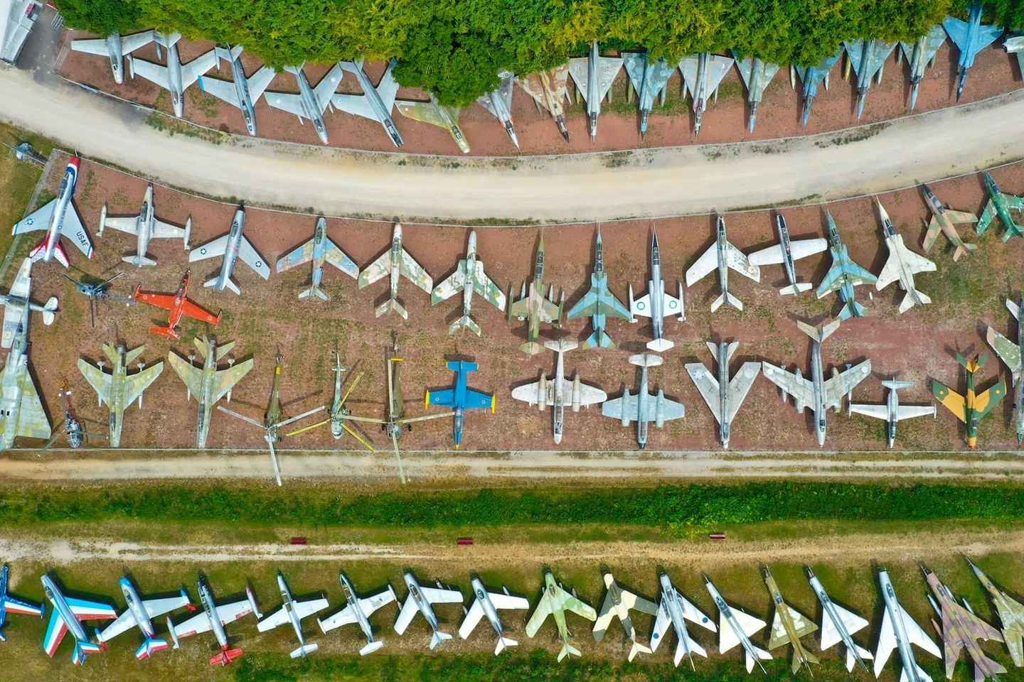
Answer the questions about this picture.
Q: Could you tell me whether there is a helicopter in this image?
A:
Yes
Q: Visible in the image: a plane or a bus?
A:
plane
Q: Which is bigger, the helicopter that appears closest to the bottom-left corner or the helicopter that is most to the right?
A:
the helicopter that is most to the right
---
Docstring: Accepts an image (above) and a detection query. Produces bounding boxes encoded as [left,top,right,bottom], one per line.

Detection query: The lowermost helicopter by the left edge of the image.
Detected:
[45,374,97,450]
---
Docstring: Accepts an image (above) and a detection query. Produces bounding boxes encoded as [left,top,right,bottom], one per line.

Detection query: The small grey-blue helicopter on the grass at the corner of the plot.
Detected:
[2,142,50,168]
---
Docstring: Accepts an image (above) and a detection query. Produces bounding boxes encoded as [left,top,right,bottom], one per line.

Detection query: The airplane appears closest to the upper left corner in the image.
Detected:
[70,28,161,85]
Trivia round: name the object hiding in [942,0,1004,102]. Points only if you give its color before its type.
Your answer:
blue airplane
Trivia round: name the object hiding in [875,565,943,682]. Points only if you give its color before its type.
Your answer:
white airplane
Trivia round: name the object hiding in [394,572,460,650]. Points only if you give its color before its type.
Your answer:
white airplane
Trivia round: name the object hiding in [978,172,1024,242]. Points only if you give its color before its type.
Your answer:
green airplane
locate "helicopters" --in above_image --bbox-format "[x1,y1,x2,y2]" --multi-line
[65,273,133,327]
[45,374,97,450]
[288,348,377,451]
[220,352,326,485]
[2,142,50,168]
[341,343,455,483]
